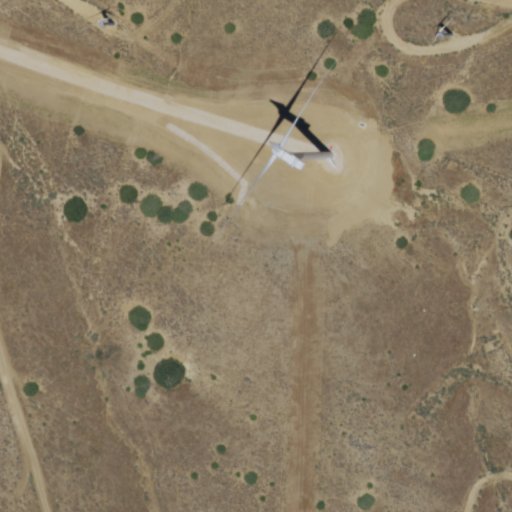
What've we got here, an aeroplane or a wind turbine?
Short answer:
wind turbine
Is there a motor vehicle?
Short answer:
No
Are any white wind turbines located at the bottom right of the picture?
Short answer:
No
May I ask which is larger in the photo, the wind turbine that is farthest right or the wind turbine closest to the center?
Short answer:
the wind turbine closest to the center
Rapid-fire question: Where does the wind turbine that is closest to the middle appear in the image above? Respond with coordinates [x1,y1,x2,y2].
[222,58,340,236]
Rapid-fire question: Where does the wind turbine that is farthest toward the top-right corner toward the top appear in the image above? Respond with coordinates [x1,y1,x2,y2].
[428,16,455,44]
